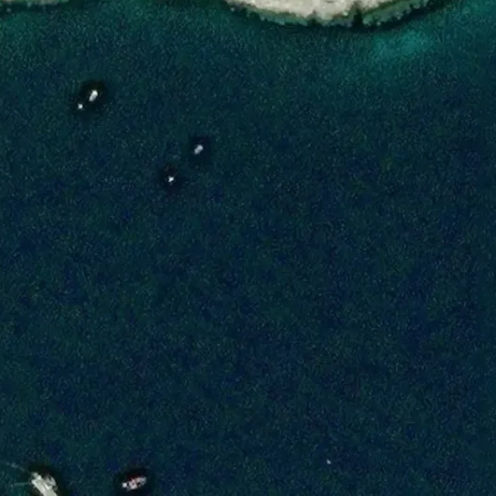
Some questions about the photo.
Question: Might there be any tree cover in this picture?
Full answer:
No, the scene doesn't show any tree cover.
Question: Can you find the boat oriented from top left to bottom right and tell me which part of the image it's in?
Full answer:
The boat oriented from top left to bottom right is located in the bottom left region of the scene.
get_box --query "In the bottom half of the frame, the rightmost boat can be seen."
[126,475,147,487]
